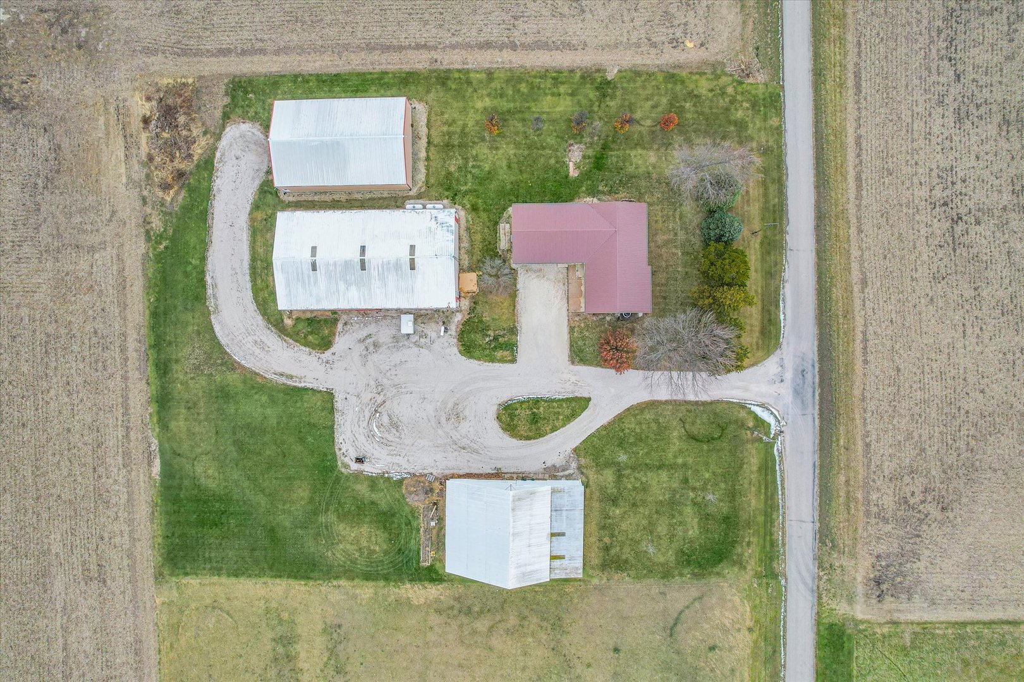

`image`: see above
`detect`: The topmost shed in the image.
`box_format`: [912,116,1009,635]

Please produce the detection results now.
[268,97,412,194]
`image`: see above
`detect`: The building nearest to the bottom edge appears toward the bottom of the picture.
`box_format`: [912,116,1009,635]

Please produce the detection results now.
[446,478,584,590]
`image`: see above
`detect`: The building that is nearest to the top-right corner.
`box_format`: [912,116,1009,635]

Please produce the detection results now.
[511,200,652,313]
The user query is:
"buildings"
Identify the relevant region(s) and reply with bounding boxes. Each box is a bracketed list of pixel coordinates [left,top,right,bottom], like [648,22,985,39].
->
[446,478,584,590]
[511,200,652,313]
[268,97,412,194]
[273,209,460,311]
